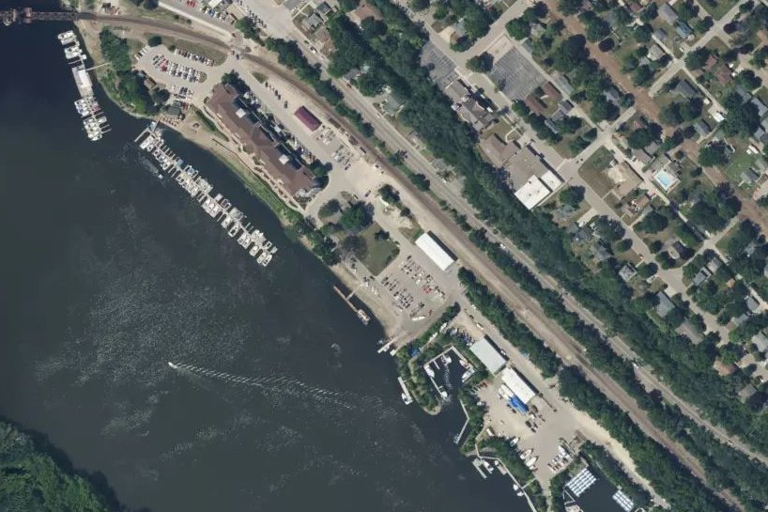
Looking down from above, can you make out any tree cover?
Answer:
Yes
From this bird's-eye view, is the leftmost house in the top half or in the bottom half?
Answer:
top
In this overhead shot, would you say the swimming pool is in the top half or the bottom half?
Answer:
top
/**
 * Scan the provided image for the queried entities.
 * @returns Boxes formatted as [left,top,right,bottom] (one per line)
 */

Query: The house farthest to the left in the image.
[73,63,94,96]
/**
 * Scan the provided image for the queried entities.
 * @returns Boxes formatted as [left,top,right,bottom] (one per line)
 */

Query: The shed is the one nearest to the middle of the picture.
[416,231,454,270]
